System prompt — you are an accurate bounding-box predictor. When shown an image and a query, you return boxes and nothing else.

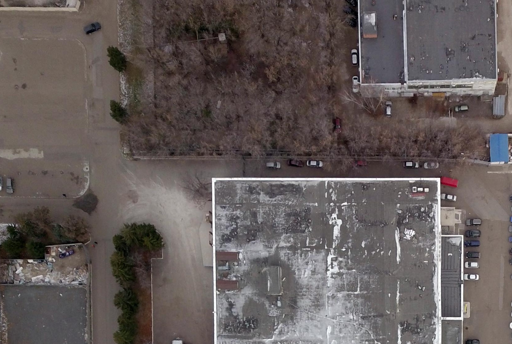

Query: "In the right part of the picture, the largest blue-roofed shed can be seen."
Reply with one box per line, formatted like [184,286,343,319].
[489,134,509,165]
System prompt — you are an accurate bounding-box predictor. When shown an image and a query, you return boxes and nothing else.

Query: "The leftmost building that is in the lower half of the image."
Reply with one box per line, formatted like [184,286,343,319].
[212,178,440,344]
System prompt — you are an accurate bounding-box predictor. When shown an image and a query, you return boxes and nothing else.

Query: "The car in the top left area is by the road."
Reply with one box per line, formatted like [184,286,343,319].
[84,22,101,35]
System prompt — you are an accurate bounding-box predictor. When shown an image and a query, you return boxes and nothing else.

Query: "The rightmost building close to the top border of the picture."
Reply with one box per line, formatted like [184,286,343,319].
[406,0,497,101]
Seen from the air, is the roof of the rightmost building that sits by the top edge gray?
Yes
